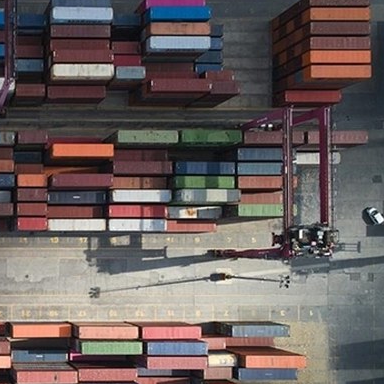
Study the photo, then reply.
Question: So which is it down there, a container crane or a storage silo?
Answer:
container crane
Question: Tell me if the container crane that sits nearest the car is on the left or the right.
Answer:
right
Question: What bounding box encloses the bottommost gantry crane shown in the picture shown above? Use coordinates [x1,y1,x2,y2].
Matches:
[205,104,337,259]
